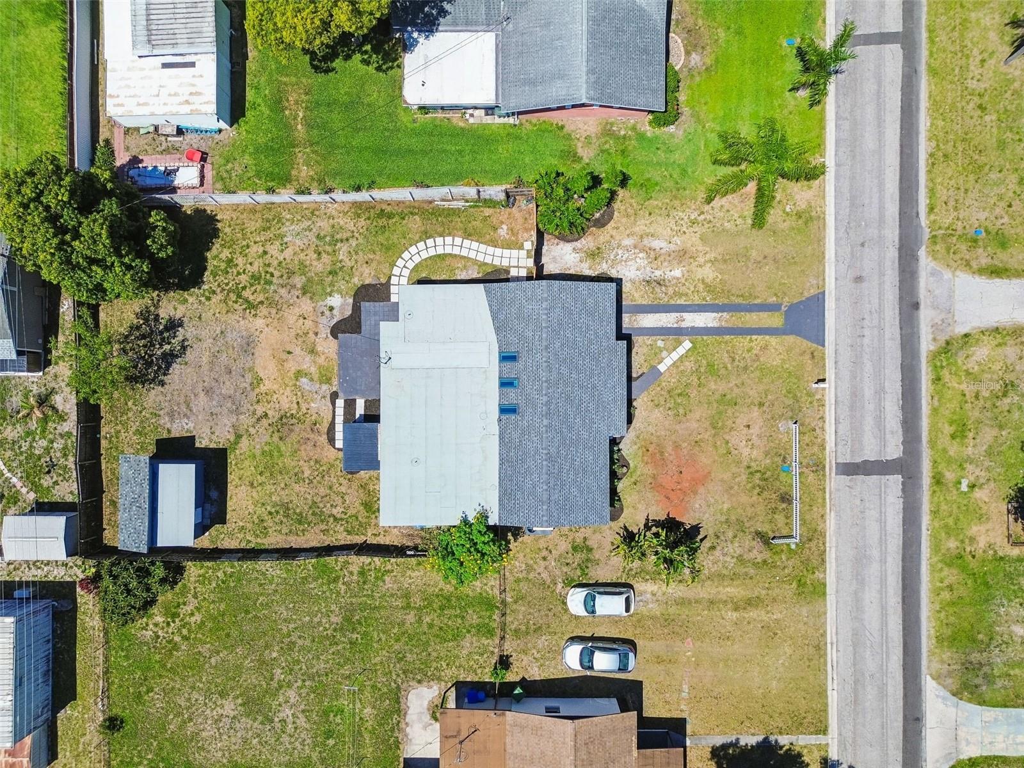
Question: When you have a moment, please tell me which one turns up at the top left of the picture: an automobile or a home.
home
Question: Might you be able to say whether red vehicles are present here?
No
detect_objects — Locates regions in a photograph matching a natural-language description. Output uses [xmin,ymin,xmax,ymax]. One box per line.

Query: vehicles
[562,640,636,678]
[567,586,635,622]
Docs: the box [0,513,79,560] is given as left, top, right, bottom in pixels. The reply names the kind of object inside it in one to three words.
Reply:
shed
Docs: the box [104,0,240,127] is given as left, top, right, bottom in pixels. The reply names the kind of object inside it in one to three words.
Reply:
house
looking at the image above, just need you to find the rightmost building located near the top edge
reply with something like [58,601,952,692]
[392,0,666,119]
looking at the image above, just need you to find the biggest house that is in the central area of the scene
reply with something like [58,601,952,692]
[343,280,628,528]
